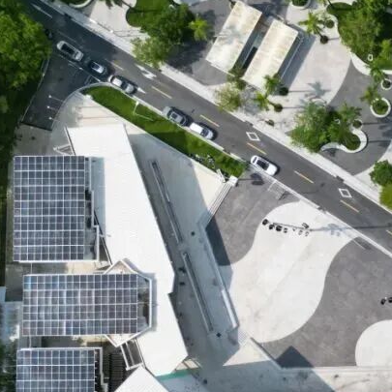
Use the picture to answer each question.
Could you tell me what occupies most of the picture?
paved ground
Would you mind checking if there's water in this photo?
No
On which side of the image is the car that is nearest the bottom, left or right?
right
